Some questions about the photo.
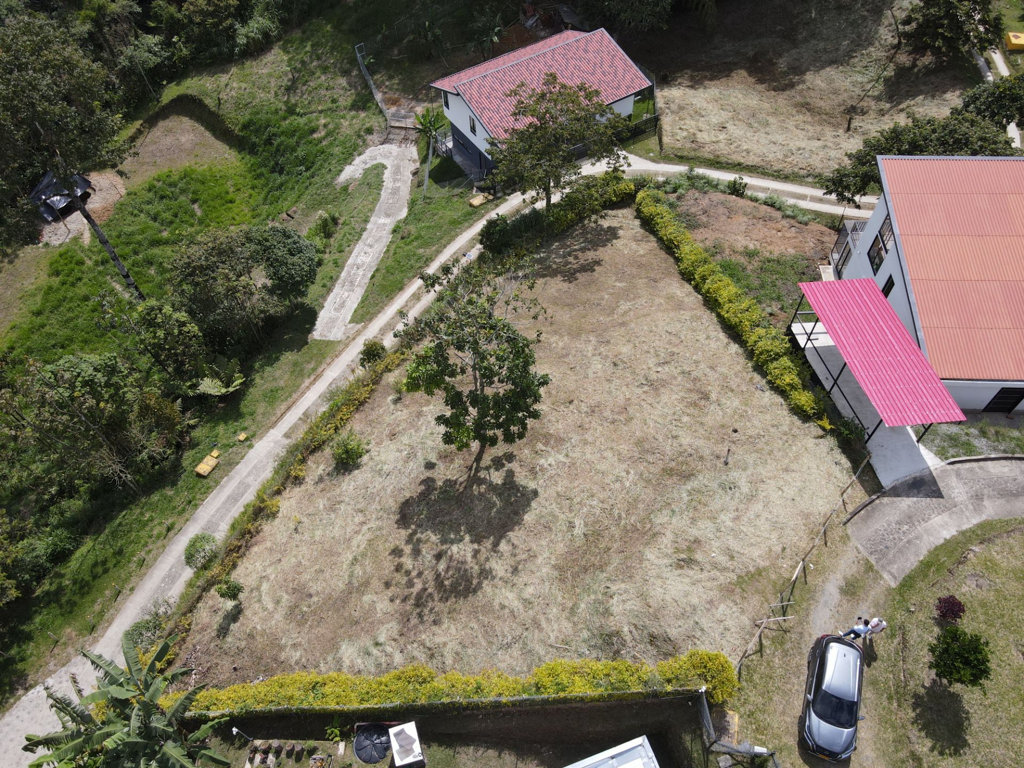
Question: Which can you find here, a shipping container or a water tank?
water tank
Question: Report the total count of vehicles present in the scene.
1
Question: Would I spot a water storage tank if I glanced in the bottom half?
Yes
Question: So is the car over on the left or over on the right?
right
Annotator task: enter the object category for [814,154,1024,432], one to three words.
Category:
house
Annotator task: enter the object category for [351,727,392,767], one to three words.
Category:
water tank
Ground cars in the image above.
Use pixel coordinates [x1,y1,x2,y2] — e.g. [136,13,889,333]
[800,637,866,764]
